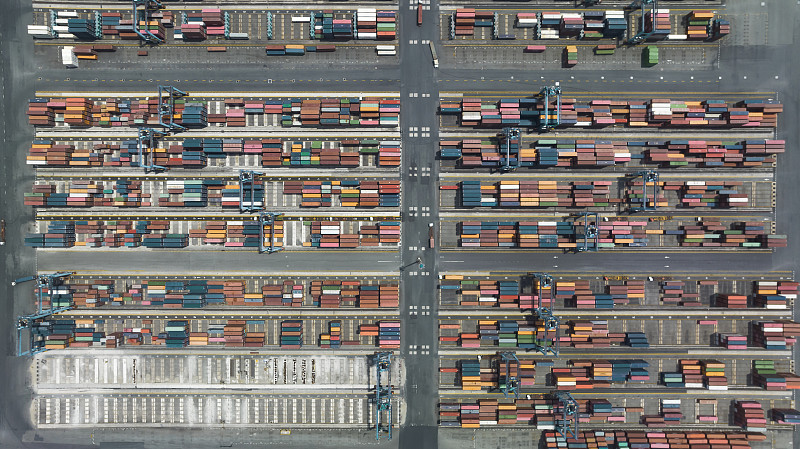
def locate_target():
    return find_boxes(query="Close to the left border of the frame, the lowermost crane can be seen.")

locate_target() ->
[18,311,58,357]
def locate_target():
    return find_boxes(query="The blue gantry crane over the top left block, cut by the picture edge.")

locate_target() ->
[133,0,166,45]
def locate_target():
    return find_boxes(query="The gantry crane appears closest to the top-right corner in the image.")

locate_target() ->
[623,0,658,46]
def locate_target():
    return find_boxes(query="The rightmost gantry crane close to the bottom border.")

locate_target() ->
[550,390,580,440]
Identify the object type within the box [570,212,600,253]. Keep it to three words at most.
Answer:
container crane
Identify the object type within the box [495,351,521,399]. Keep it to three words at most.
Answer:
container crane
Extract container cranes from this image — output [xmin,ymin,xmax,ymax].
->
[550,390,580,440]
[374,390,394,440]
[495,351,521,399]
[532,312,560,357]
[533,80,561,133]
[18,311,58,357]
[259,212,284,252]
[158,85,190,133]
[374,351,395,398]
[570,212,600,253]
[527,272,555,315]
[239,169,266,212]
[496,127,523,173]
[133,0,166,45]
[38,271,77,315]
[624,169,659,213]
[623,0,658,46]
[138,126,172,173]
